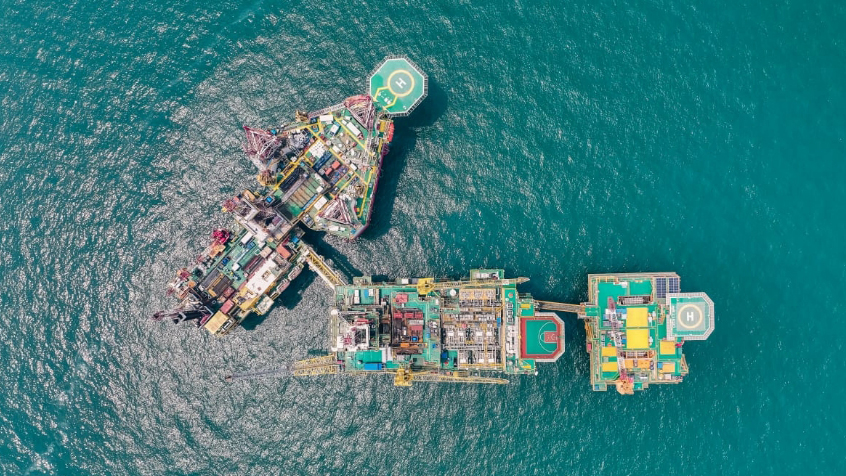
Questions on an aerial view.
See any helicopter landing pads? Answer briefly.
Yes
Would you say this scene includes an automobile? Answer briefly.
No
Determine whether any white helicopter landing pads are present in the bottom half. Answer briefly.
Yes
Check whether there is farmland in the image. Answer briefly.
No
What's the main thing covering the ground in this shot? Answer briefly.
water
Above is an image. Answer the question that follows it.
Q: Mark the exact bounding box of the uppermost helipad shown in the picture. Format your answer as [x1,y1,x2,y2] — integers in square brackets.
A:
[368,56,427,116]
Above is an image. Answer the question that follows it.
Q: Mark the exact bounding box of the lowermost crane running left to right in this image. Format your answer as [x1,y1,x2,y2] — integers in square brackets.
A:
[392,369,508,387]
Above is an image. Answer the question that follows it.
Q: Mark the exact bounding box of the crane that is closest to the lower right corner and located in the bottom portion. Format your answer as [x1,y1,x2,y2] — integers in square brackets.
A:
[606,295,630,395]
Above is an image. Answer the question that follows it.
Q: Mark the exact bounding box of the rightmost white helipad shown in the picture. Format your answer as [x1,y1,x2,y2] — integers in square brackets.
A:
[667,293,715,340]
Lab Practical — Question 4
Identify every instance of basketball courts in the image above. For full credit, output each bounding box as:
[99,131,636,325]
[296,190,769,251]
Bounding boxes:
[519,312,565,363]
